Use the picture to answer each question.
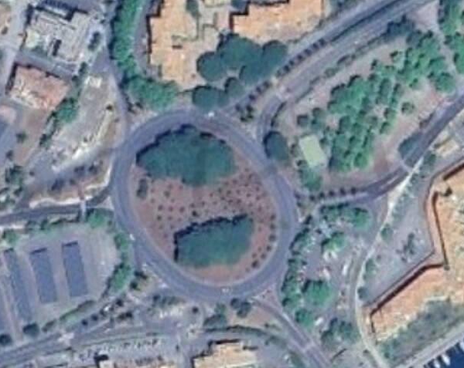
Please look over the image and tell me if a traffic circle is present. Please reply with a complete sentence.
Yes, the photo shows a traffic circle.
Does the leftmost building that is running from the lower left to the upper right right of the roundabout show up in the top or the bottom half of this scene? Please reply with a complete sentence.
The leftmost building that is running from the lower left to the upper right right of the roundabout is in the bottom half of the image.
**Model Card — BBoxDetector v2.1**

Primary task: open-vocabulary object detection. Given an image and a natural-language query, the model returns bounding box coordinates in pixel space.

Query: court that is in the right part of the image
[300,135,327,167]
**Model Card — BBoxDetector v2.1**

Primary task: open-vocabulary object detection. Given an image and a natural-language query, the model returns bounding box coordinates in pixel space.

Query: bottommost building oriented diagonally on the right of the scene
[364,257,447,341]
